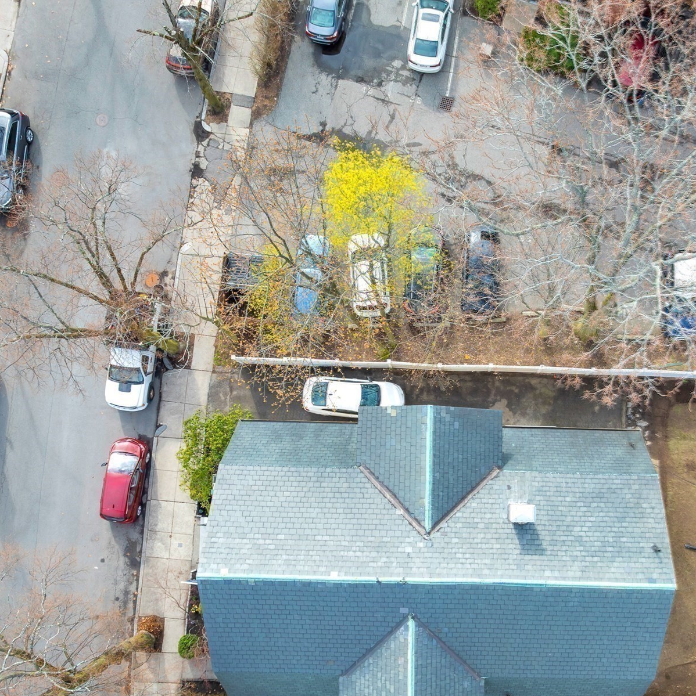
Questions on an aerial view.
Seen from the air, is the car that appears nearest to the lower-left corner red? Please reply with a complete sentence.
Yes, the car that appears nearest to the lower-left corner is red.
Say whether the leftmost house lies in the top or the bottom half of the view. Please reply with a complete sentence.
It is in the bottom half that the leftmost house appears.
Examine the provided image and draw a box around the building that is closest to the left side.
[182,404,679,696]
